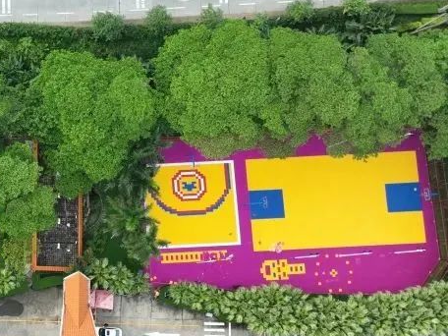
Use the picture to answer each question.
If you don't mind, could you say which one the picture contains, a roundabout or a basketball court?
basketball court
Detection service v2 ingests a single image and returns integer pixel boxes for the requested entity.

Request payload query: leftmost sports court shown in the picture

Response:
[146,160,241,249]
